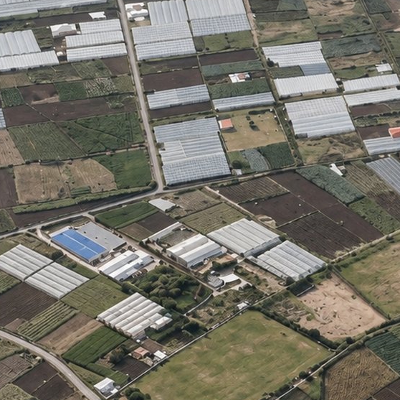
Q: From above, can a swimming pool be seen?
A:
No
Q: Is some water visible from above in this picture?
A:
No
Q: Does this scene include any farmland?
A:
Yes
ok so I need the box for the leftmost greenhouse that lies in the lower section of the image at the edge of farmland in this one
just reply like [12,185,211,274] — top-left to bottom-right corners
[0,244,53,282]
